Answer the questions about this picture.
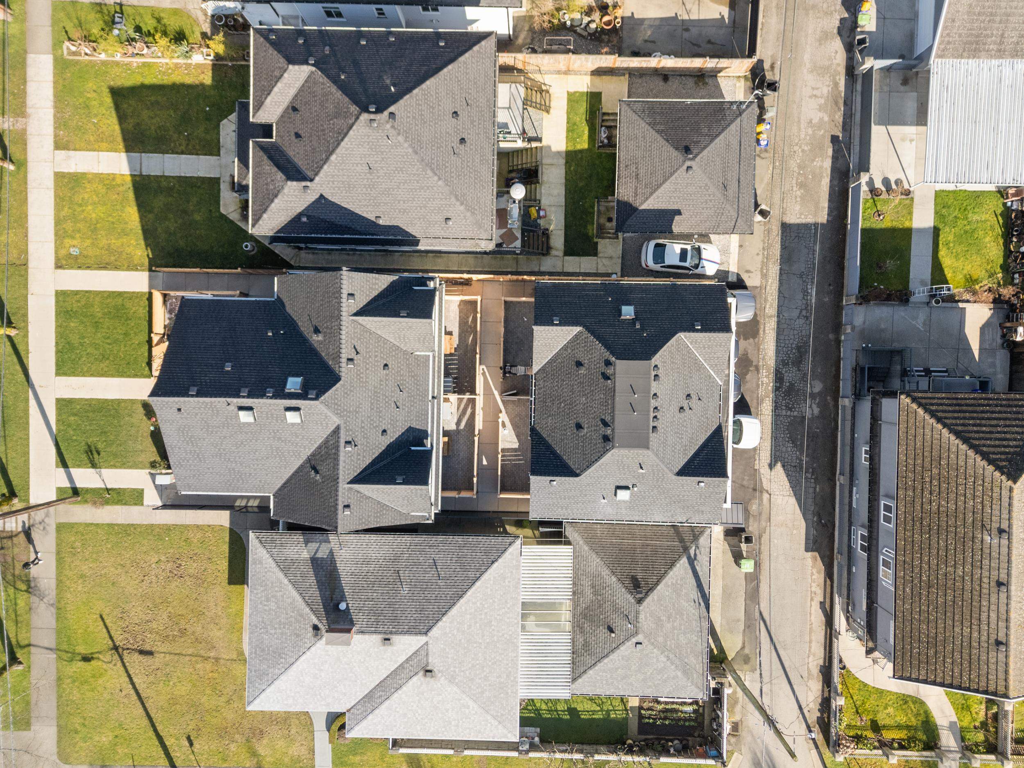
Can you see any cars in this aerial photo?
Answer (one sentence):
Yes, the picture does show a car.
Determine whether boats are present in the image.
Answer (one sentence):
No, there's no boat here.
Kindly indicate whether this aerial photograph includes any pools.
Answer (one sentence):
No, I find no pool anywhere in the image.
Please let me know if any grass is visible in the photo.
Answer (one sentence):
Yes, grass can be seen from above here.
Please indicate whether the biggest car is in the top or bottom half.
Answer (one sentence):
It is in the top half that the biggest car appears.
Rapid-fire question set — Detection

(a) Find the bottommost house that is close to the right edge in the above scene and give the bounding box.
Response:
[852,387,1024,704]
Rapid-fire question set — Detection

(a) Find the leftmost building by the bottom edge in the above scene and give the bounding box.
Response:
[244,528,524,744]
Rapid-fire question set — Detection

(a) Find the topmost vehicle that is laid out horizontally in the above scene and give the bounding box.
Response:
[642,239,721,277]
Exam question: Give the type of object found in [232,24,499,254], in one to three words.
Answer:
house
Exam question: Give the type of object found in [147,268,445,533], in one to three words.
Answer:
house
